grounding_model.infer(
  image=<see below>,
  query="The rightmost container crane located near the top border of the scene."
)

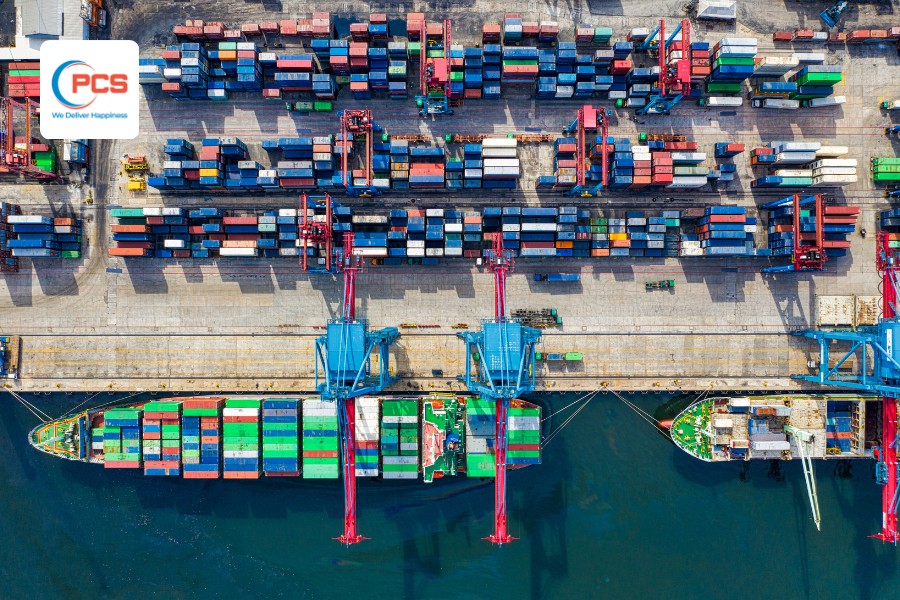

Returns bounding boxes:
[635,18,693,113]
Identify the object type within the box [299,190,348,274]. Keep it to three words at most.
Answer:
container crane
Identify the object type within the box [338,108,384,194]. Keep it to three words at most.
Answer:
container crane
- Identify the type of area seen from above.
port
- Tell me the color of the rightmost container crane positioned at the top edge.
red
